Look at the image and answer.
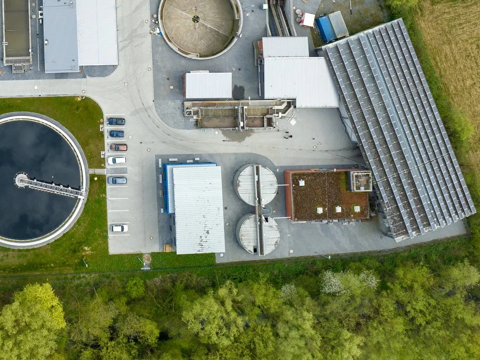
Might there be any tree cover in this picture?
Yes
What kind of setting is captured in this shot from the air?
industrial area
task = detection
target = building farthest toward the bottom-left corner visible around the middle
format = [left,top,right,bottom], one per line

[162,161,225,254]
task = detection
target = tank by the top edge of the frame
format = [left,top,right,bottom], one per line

[158,0,243,59]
